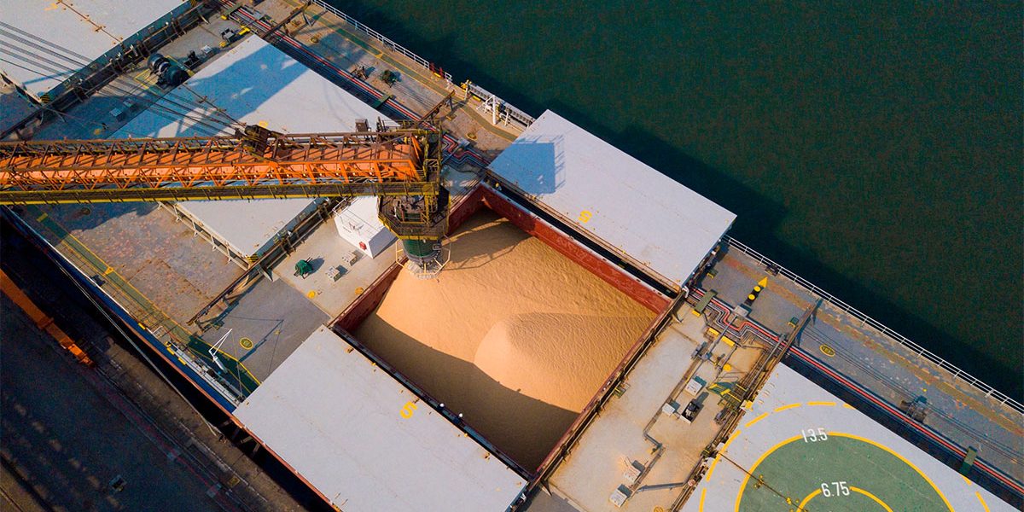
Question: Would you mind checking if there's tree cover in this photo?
No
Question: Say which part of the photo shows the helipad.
bottom right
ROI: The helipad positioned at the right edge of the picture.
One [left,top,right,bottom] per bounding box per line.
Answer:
[700,402,986,512]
